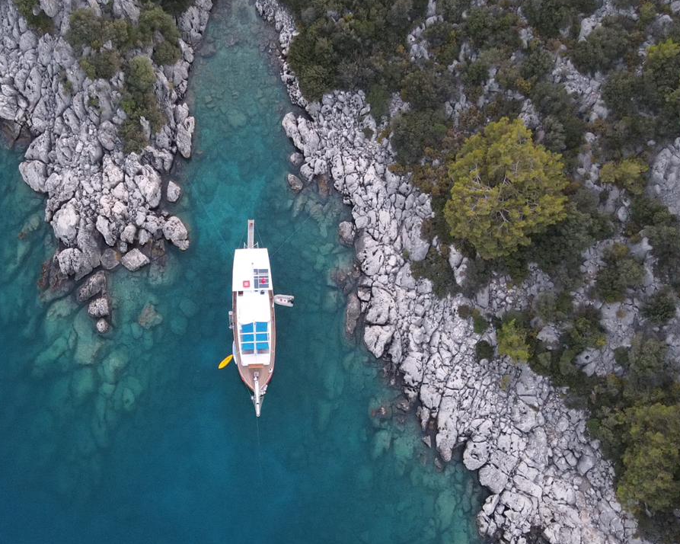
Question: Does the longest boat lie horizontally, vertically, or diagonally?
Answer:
vertically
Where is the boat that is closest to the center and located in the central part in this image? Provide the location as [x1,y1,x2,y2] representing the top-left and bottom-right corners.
[275,294,295,307]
